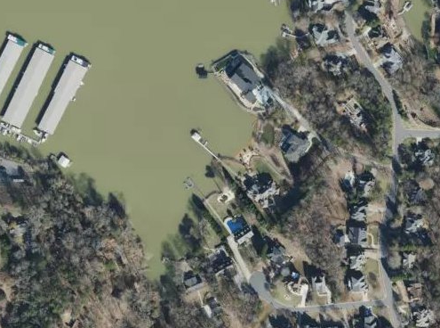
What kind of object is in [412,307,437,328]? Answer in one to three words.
house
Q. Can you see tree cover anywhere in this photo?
Yes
